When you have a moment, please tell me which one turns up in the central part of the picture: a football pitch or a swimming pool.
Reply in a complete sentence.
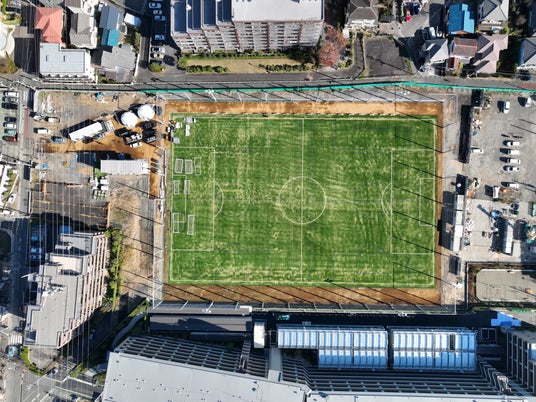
Looking in the central part of the picture, you will find a football pitch.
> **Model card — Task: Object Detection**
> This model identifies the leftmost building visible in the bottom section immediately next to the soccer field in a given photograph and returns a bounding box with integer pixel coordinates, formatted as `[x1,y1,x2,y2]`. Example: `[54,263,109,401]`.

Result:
[24,230,115,349]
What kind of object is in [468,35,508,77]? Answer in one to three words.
house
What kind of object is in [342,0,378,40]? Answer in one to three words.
house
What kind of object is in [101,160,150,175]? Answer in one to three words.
building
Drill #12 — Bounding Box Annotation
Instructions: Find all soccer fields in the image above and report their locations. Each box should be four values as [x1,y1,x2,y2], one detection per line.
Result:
[163,100,442,305]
